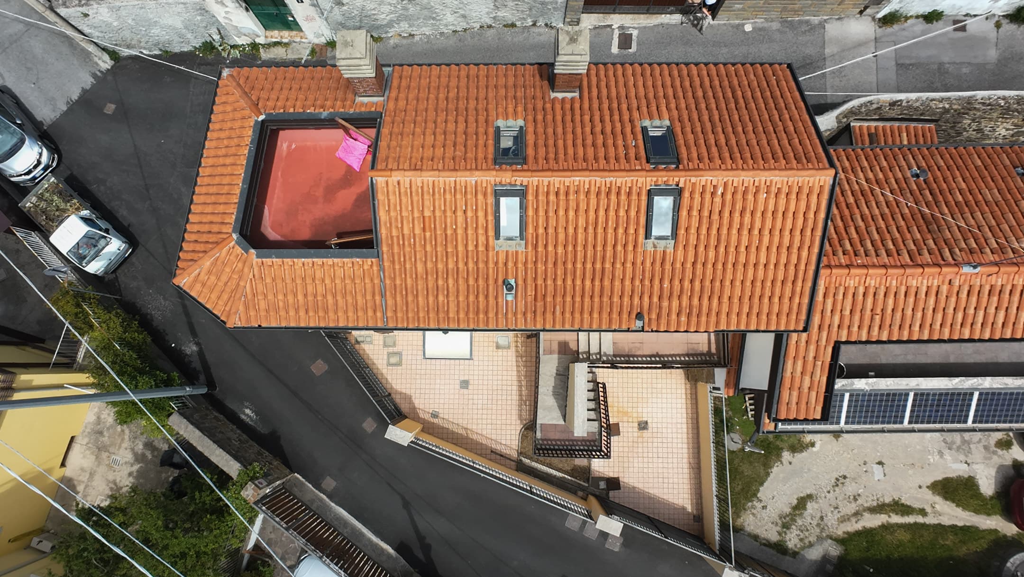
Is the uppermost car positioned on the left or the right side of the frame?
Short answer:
left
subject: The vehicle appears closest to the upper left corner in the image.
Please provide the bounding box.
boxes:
[0,79,62,181]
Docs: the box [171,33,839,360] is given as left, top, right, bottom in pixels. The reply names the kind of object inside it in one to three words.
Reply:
house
